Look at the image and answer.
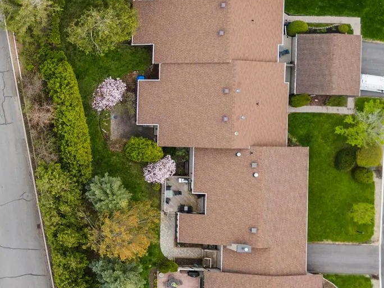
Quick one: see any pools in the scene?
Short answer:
No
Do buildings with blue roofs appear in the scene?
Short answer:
No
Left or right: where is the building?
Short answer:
right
